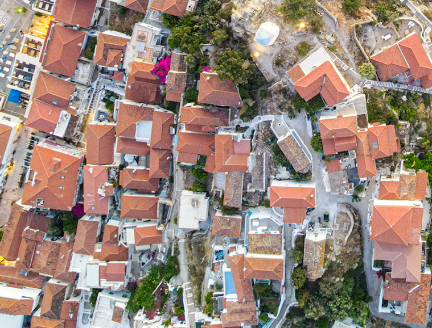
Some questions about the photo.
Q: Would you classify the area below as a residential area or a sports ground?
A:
residential area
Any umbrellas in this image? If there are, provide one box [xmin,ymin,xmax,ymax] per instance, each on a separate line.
[7,88,22,103]
[125,153,134,163]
